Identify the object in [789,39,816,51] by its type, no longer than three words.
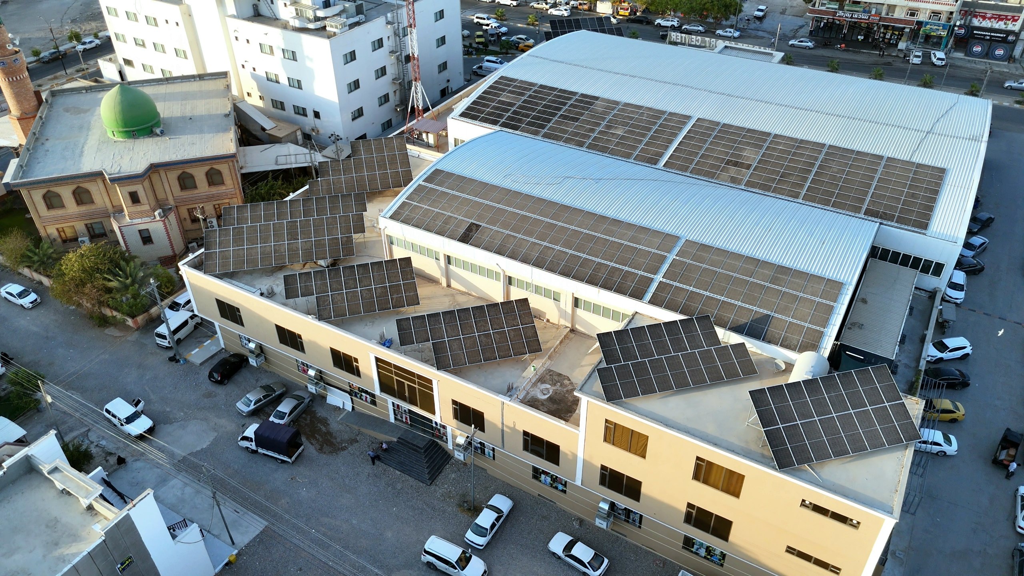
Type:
vehicle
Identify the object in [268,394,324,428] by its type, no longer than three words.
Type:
car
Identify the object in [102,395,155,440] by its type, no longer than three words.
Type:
car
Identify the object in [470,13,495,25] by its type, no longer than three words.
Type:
vehicle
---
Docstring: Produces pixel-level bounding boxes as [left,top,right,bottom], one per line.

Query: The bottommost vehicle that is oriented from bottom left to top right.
[462,494,516,547]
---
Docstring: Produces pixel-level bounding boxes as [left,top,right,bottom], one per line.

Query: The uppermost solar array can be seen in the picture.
[544,16,624,39]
